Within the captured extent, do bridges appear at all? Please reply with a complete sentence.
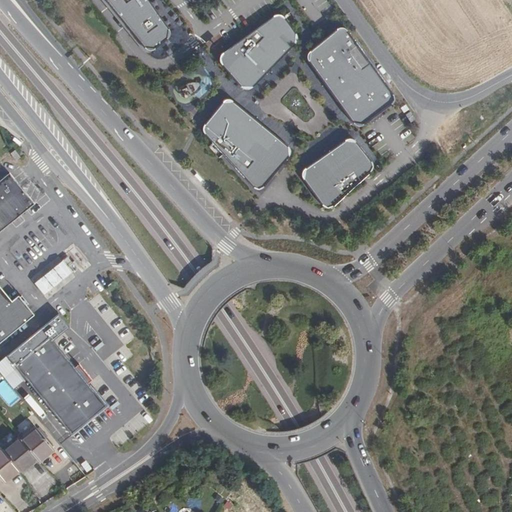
Yes, this view includes a bridge.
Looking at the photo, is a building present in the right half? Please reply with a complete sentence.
Yes, there is a building in the right half.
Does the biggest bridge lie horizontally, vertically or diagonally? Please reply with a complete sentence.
In this picture, the biggest bridge is oriented diagonally.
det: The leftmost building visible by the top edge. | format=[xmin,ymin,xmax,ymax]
[108,0,170,50]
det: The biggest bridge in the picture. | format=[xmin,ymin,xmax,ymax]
[164,252,249,352]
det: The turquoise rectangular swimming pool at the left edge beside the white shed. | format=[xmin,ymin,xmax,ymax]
[0,378,22,408]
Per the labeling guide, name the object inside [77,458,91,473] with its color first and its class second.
white vehicle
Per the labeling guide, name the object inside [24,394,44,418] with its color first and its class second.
white vehicle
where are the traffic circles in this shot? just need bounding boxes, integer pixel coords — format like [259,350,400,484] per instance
[172,252,382,462]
